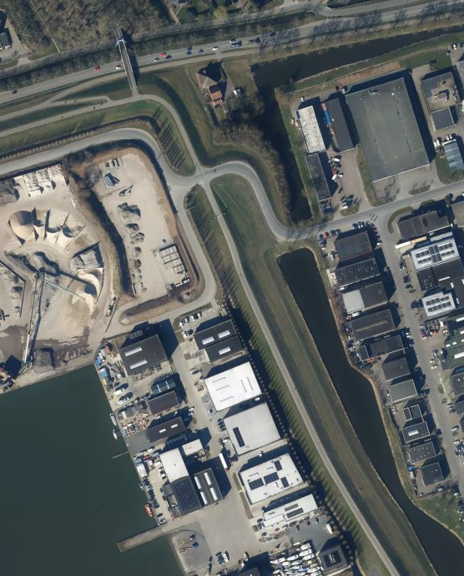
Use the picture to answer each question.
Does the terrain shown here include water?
Yes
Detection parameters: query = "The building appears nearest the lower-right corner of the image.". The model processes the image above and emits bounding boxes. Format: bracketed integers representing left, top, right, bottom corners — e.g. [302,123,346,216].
[421,462,444,487]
